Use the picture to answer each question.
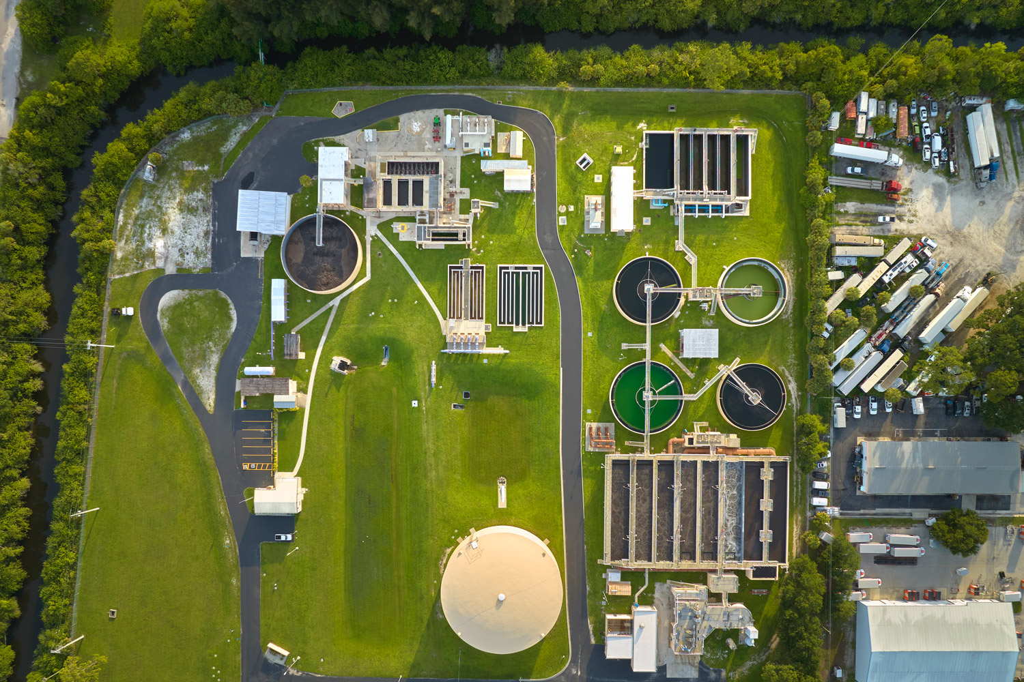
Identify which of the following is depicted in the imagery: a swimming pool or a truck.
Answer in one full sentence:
Visible in the photo is a truck.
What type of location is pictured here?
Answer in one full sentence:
What you see here is an industrial area.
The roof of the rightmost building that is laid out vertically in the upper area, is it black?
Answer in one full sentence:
No, the color of the roof of the rightmost building that is laid out vertically in the upper area is white.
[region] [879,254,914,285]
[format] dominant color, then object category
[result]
white camper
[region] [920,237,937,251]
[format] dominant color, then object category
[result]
white car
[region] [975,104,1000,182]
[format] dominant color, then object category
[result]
white truck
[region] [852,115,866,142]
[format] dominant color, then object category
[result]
white vehicle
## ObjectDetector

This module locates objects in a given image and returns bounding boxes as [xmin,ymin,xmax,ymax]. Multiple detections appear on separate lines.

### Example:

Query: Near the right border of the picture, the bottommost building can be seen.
[850,597,1020,682]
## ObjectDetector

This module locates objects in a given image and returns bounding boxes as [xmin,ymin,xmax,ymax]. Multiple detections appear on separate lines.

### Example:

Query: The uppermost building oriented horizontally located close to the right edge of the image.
[860,440,1022,494]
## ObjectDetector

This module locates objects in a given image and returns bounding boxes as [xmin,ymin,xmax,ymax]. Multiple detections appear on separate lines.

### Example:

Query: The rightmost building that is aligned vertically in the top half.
[609,165,637,233]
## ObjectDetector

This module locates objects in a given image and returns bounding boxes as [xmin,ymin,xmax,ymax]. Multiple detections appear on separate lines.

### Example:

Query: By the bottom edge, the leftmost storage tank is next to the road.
[440,523,563,654]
